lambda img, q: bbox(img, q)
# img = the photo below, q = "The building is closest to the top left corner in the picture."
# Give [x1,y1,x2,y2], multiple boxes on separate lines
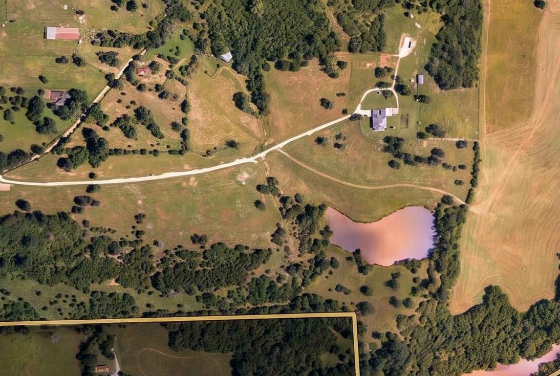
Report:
[45,27,78,39]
